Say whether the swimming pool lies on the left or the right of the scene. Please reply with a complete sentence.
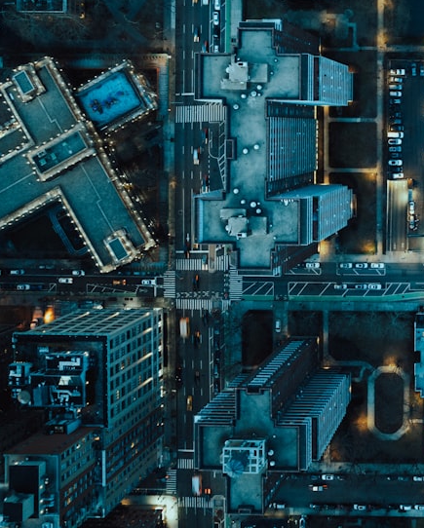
You can find the swimming pool on the left side of the picture.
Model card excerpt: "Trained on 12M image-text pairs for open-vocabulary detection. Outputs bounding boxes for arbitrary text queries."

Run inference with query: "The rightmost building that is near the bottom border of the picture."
[196,338,351,514]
